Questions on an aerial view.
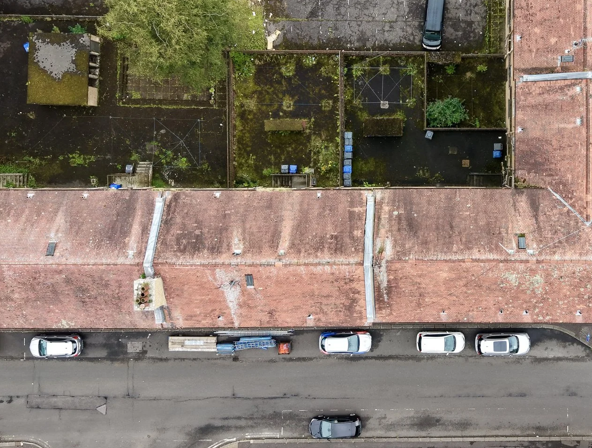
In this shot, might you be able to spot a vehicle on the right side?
Yes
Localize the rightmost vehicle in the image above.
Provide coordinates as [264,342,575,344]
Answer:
[476,331,530,359]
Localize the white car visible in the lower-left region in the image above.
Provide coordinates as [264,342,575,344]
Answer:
[31,333,85,360]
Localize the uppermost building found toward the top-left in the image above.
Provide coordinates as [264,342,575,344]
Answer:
[27,33,108,105]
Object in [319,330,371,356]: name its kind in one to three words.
car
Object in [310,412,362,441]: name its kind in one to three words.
car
